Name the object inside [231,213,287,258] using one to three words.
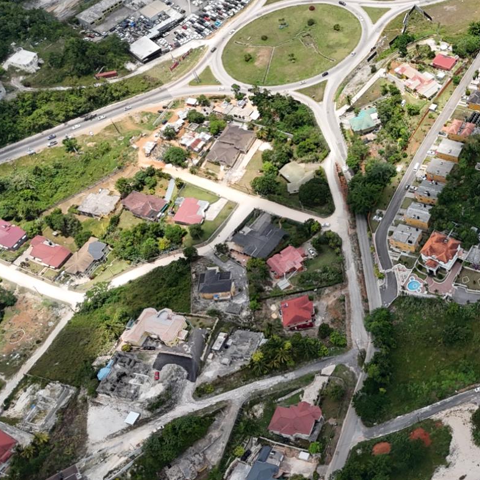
house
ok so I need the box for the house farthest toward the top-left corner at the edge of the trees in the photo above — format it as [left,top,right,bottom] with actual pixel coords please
[4,51,46,74]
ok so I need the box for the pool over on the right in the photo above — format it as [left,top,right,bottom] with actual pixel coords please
[406,276,422,292]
